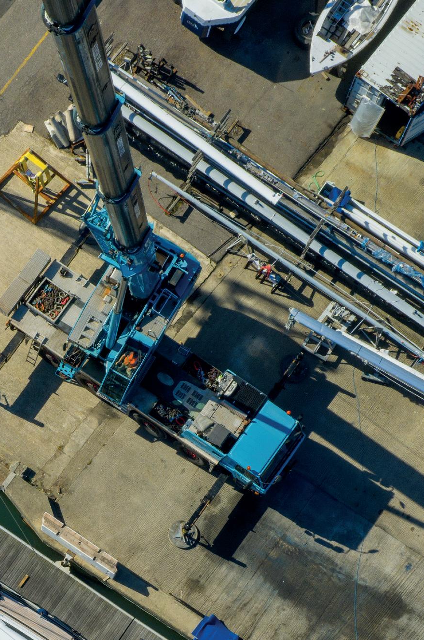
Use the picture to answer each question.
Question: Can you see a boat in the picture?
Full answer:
Yes, a boat is visible in the scene.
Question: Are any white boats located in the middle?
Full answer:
No, the scene shows no white boat in the middle.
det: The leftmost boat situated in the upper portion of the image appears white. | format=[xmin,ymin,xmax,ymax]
[182,0,257,38]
